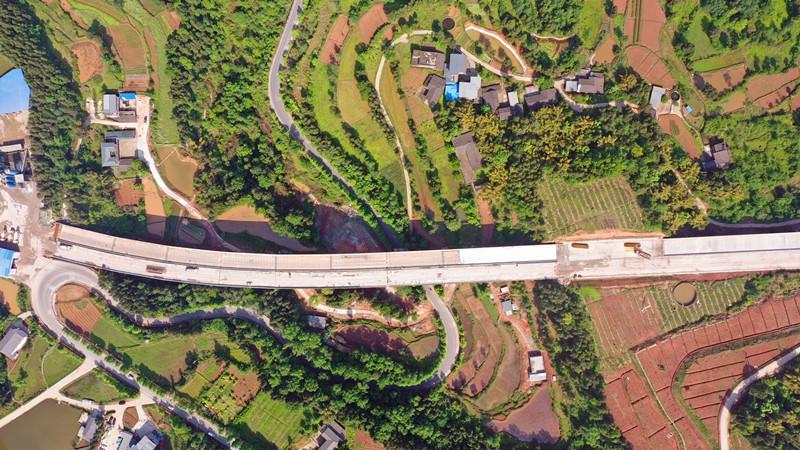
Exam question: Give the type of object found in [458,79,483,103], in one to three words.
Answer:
house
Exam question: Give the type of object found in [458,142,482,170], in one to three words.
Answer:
house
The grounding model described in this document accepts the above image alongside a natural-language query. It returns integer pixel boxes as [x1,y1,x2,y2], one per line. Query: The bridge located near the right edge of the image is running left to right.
[664,232,800,255]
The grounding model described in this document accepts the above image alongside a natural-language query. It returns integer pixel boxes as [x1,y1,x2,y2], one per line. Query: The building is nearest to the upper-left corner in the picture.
[0,68,37,116]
